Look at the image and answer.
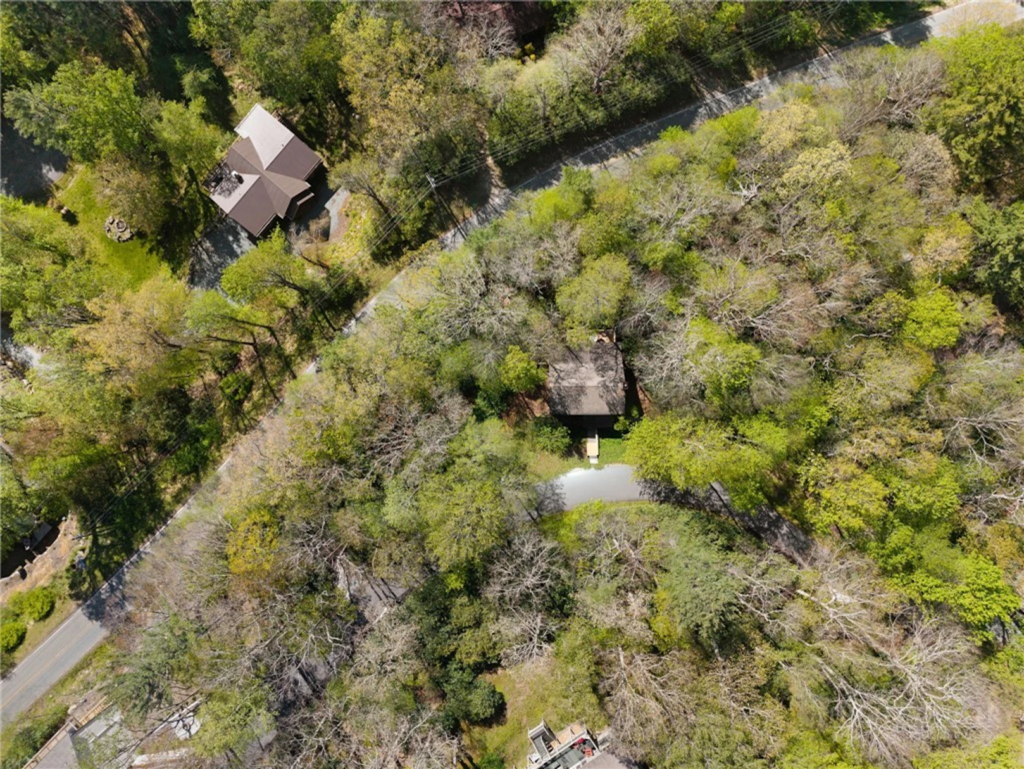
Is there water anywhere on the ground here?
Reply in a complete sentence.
No, the scene doesn't show any water.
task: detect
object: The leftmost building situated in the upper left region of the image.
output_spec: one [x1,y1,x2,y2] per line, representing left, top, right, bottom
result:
[205,104,326,236]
